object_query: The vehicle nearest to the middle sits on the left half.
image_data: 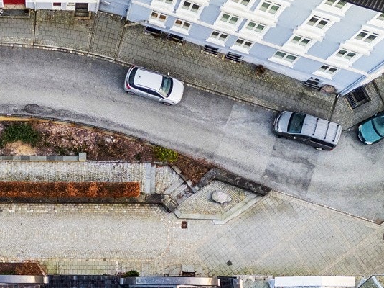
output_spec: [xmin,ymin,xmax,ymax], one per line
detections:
[119,62,186,109]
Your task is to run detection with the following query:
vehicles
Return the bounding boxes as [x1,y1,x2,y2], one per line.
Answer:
[271,106,349,152]
[119,62,186,109]
[355,110,384,146]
